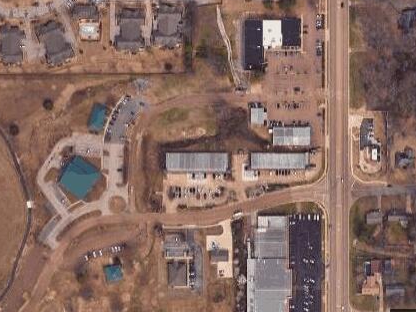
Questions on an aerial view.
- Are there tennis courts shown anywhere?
No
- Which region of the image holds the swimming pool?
top left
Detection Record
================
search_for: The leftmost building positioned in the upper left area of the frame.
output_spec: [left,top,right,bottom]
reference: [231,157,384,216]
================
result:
[0,23,27,67]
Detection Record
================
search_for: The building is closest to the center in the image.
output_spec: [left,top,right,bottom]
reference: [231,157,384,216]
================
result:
[167,153,229,171]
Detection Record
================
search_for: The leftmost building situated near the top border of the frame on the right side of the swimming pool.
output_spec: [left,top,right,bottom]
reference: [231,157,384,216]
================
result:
[115,6,145,53]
